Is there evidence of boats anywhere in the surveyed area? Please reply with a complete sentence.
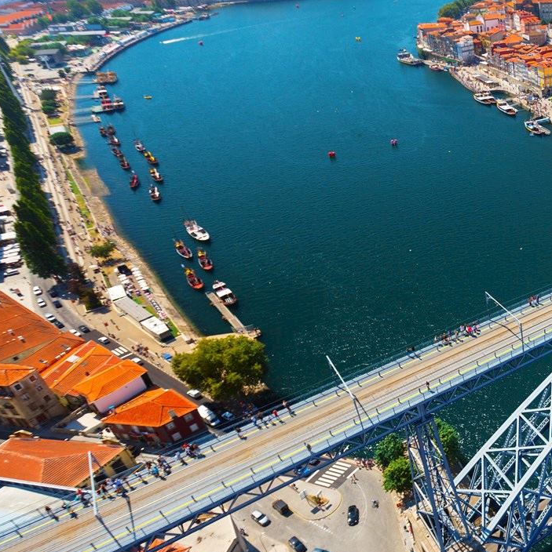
Yes, the photo shows a boat.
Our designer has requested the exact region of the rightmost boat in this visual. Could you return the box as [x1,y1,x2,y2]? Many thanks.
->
[524,119,546,133]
